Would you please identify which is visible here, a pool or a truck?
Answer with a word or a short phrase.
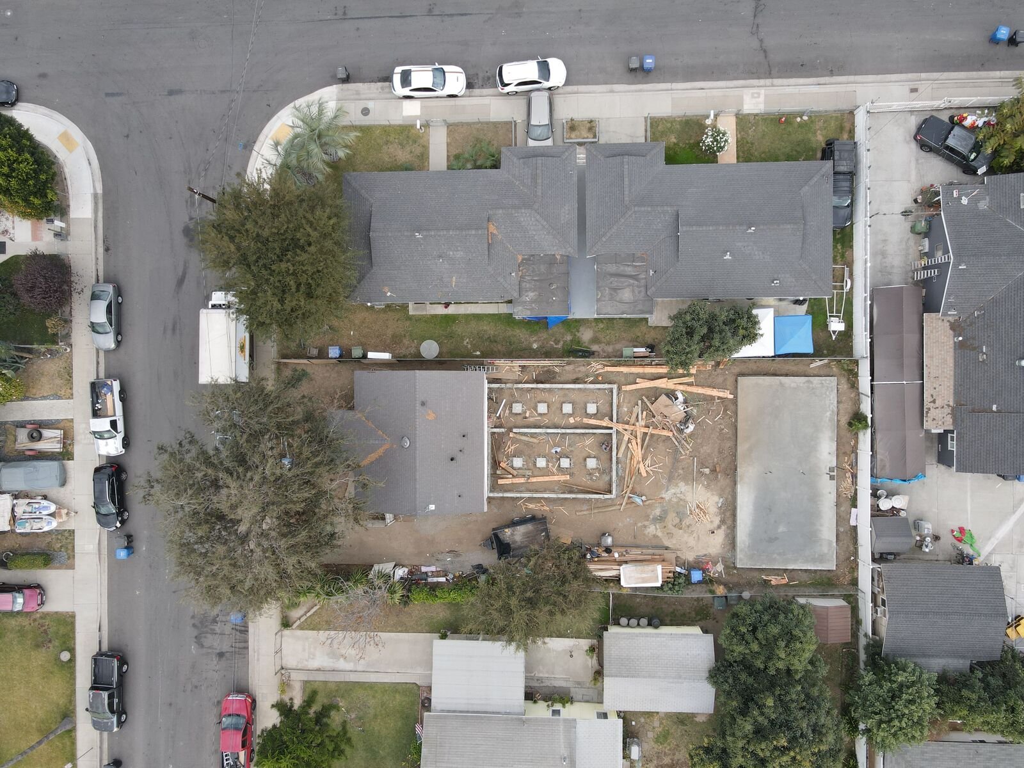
truck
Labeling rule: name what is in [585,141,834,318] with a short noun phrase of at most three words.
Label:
house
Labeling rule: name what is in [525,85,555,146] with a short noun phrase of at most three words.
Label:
car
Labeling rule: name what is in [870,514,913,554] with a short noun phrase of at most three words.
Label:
shed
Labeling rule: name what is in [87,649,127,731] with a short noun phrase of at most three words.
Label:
truck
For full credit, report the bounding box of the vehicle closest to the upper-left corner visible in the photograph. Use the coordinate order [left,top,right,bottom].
[0,80,23,110]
